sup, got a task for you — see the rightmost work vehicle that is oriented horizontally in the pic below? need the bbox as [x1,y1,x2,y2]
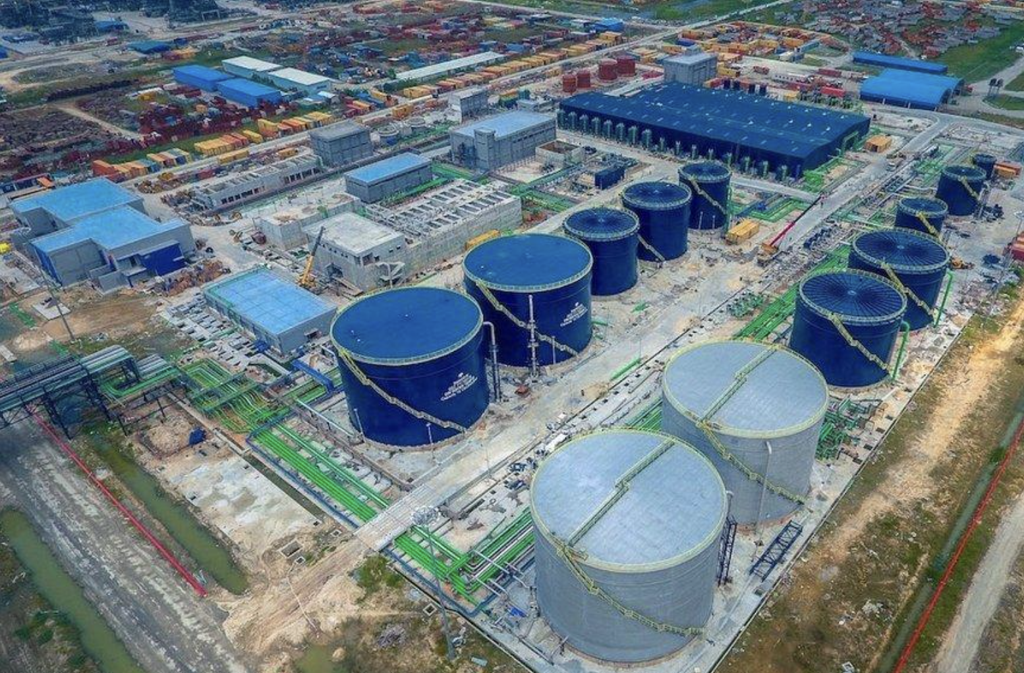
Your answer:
[949,252,987,269]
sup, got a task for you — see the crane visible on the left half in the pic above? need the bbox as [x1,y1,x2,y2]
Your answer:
[292,225,326,286]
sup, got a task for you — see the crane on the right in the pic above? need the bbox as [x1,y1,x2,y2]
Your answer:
[749,193,822,262]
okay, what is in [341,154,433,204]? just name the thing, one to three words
building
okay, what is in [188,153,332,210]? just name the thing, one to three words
building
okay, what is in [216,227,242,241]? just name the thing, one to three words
work vehicle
